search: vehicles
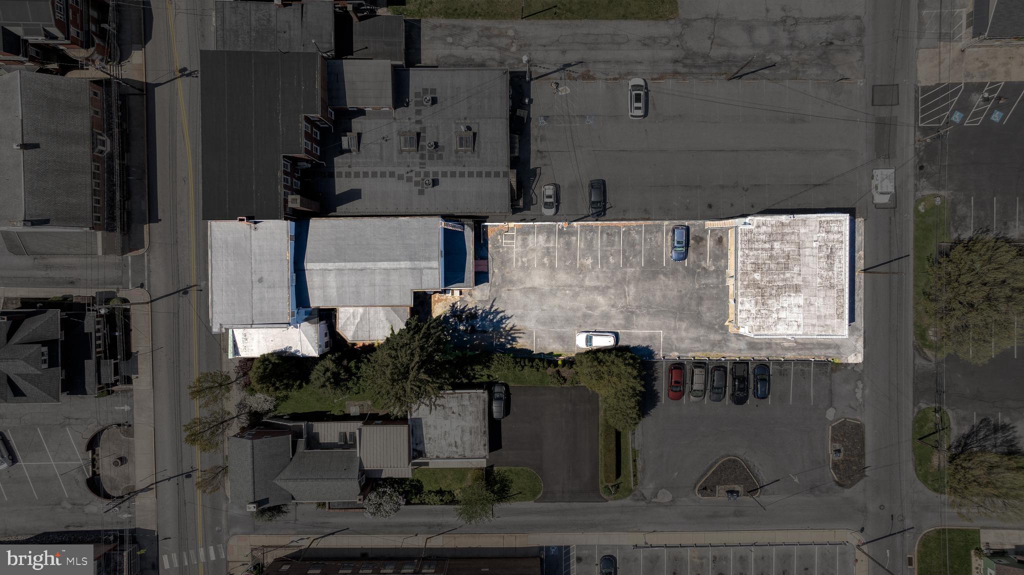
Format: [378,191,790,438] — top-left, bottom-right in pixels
[489,382,508,419]
[541,184,558,216]
[688,362,709,402]
[588,179,607,217]
[628,79,648,120]
[0,430,16,469]
[667,363,687,400]
[871,167,898,208]
[577,330,617,349]
[730,362,751,404]
[751,364,772,400]
[709,365,729,401]
[671,225,690,262]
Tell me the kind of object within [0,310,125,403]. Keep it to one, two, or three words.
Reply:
house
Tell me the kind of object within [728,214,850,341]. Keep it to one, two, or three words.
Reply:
building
